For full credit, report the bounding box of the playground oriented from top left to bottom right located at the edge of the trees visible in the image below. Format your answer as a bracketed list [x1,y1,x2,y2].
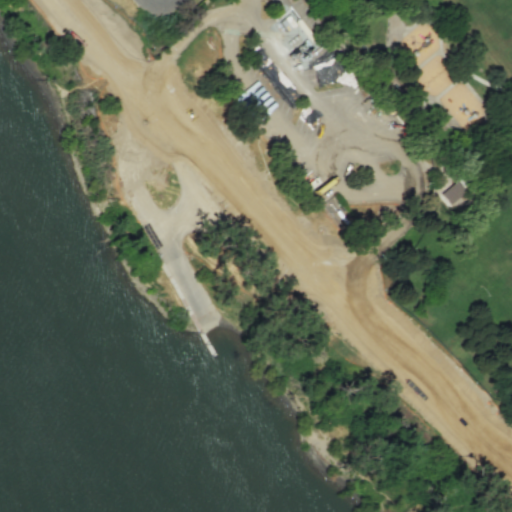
[404,24,486,127]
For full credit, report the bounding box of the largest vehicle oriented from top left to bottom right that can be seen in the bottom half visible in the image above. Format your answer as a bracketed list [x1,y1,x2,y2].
[406,378,429,400]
